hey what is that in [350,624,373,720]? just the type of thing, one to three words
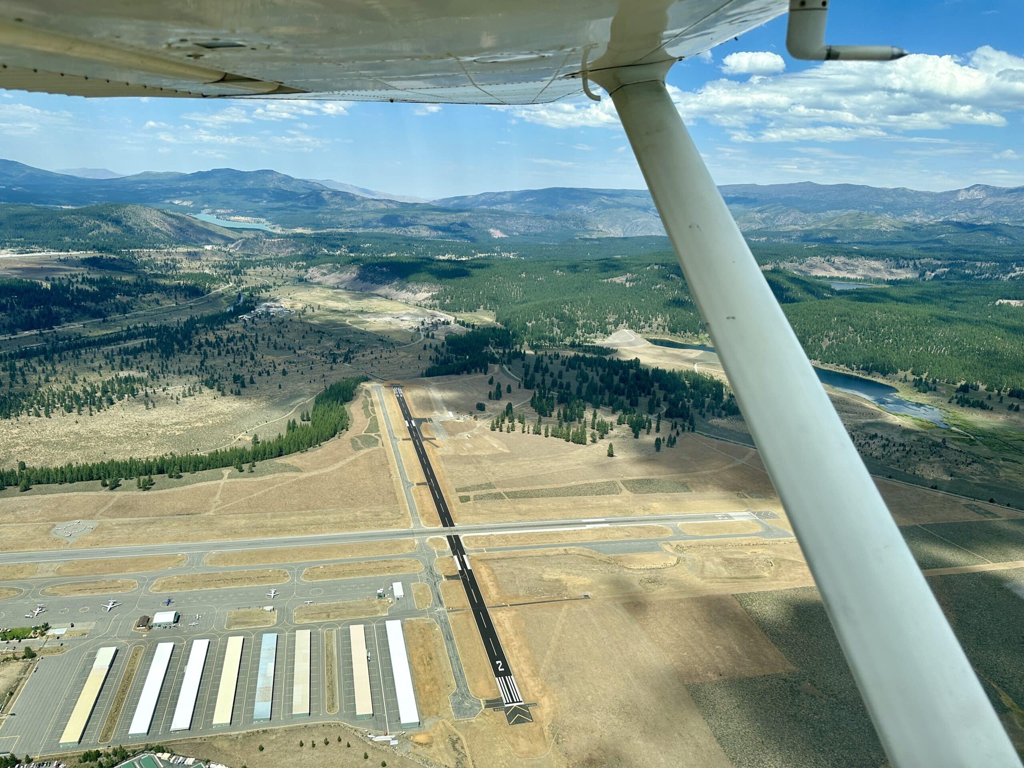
hangar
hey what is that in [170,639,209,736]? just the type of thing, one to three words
hangar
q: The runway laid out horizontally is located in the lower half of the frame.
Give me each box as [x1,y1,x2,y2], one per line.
[0,511,759,564]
